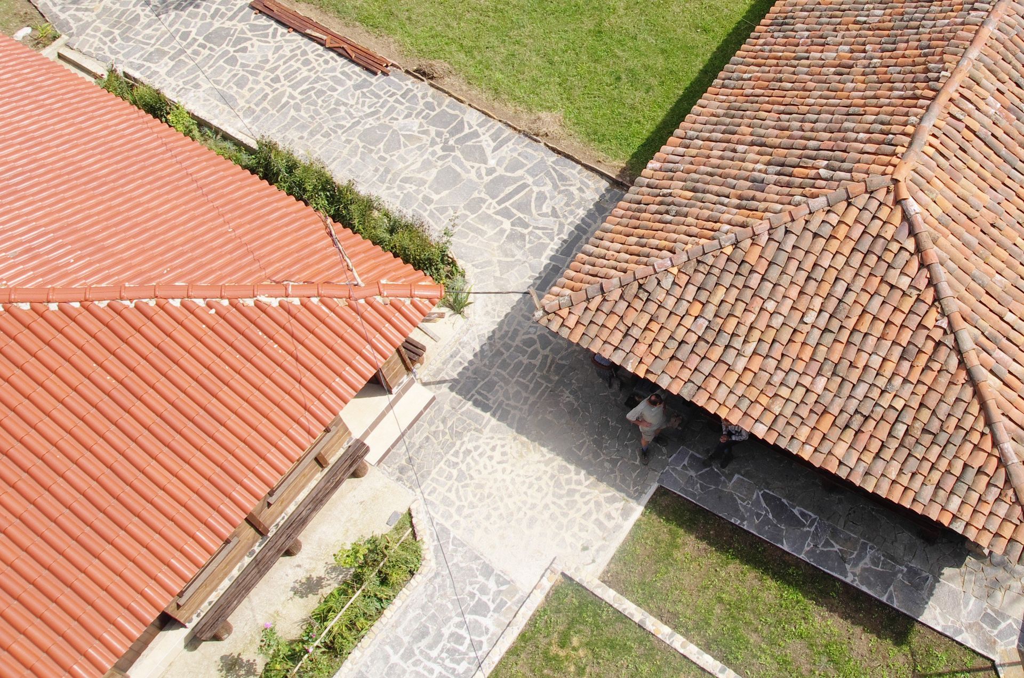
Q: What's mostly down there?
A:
buildings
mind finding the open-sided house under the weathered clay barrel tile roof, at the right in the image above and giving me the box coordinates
[534,0,1024,570]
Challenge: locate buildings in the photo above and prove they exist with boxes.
[0,27,447,678]
[534,0,1024,570]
